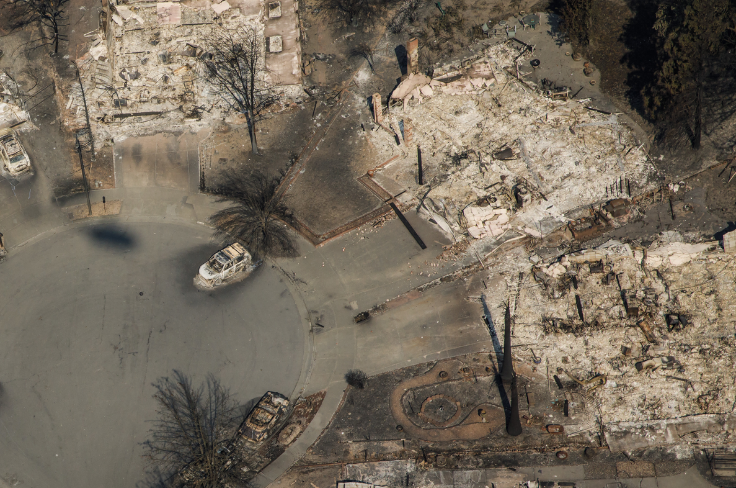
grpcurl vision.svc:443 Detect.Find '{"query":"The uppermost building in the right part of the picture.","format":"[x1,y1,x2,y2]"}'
[360,30,670,240]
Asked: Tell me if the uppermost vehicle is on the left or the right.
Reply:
left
